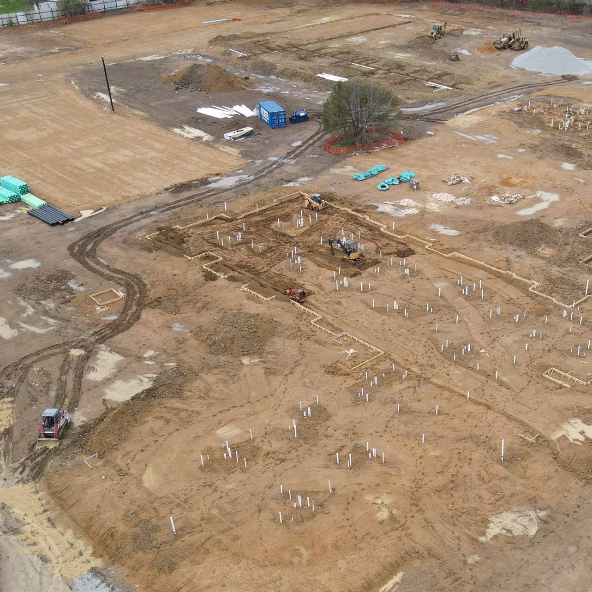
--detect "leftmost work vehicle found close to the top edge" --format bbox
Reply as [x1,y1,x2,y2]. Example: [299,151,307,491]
[427,16,445,40]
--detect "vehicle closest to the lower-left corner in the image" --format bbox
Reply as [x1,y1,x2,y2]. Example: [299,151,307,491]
[32,407,74,451]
